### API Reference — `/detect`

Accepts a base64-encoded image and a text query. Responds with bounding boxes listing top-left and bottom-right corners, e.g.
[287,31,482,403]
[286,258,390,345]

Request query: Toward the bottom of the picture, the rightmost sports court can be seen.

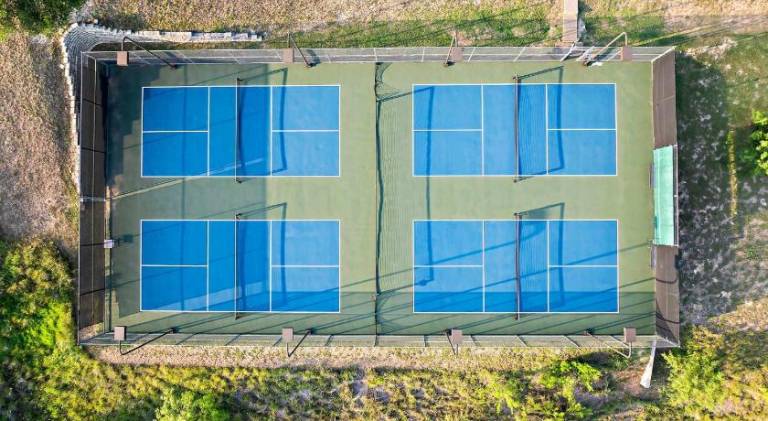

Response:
[413,220,619,313]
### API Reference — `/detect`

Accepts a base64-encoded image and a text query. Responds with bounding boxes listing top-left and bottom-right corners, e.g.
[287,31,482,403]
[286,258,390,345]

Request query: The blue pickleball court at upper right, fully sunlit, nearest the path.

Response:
[413,83,617,176]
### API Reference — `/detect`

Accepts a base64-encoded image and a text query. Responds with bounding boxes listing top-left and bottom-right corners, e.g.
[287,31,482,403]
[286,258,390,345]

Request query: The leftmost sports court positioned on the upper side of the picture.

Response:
[141,86,340,177]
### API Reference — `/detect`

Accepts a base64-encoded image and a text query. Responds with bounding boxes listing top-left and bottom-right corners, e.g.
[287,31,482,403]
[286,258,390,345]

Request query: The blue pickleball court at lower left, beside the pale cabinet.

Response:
[141,220,340,312]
